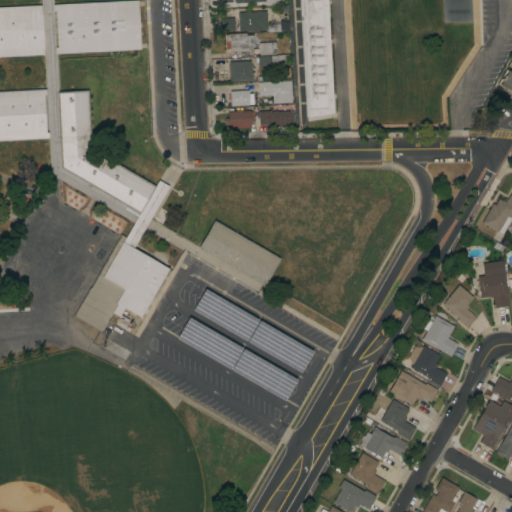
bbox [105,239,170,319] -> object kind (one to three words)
building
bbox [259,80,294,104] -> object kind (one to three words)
house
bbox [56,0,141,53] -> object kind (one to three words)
building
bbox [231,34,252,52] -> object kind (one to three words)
house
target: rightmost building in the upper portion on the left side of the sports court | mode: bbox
[302,0,338,122]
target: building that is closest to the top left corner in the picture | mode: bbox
[0,5,45,56]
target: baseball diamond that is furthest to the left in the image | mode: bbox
[0,348,206,512]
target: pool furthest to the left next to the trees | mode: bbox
[466,246,490,261]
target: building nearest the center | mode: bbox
[202,222,282,288]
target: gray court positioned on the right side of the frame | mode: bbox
[444,0,474,22]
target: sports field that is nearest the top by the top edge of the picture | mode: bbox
[353,0,474,124]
